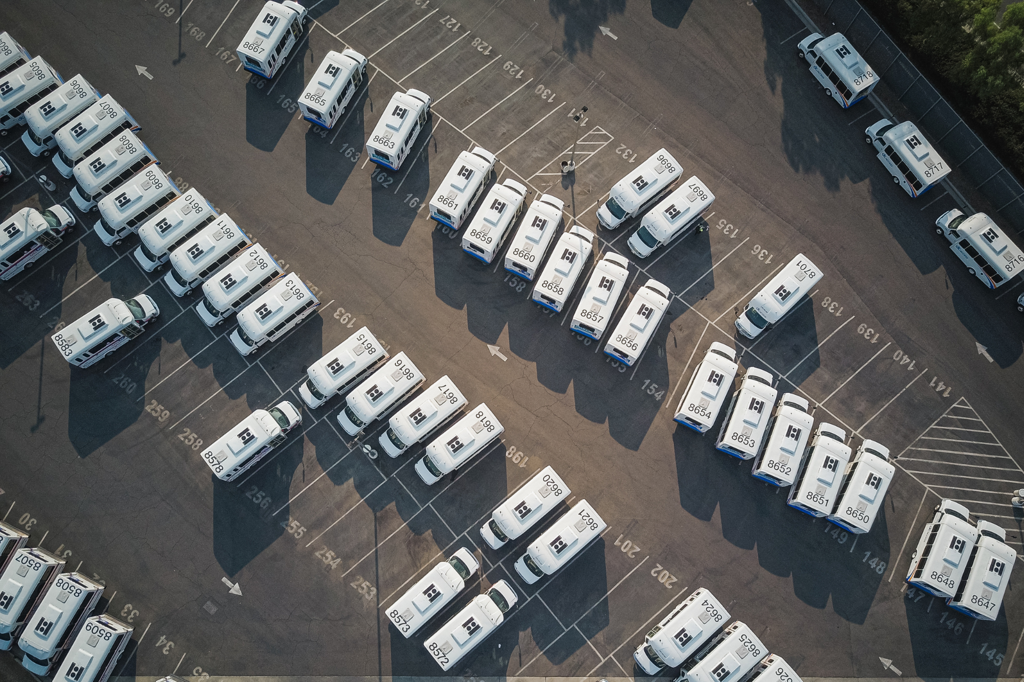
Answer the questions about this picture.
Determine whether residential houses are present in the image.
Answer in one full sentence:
No, this view has no residential house in it.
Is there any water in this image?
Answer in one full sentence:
No, the picture contains no water.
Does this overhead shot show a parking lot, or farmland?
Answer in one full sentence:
This image shows a parking lot.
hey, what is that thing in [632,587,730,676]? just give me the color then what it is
white vehicle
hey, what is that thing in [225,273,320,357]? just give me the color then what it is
white vehicle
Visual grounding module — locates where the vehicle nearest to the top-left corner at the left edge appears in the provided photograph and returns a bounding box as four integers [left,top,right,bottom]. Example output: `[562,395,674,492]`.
[0,31,31,78]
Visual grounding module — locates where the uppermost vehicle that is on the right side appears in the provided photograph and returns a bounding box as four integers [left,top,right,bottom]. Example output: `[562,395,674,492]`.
[797,25,880,112]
